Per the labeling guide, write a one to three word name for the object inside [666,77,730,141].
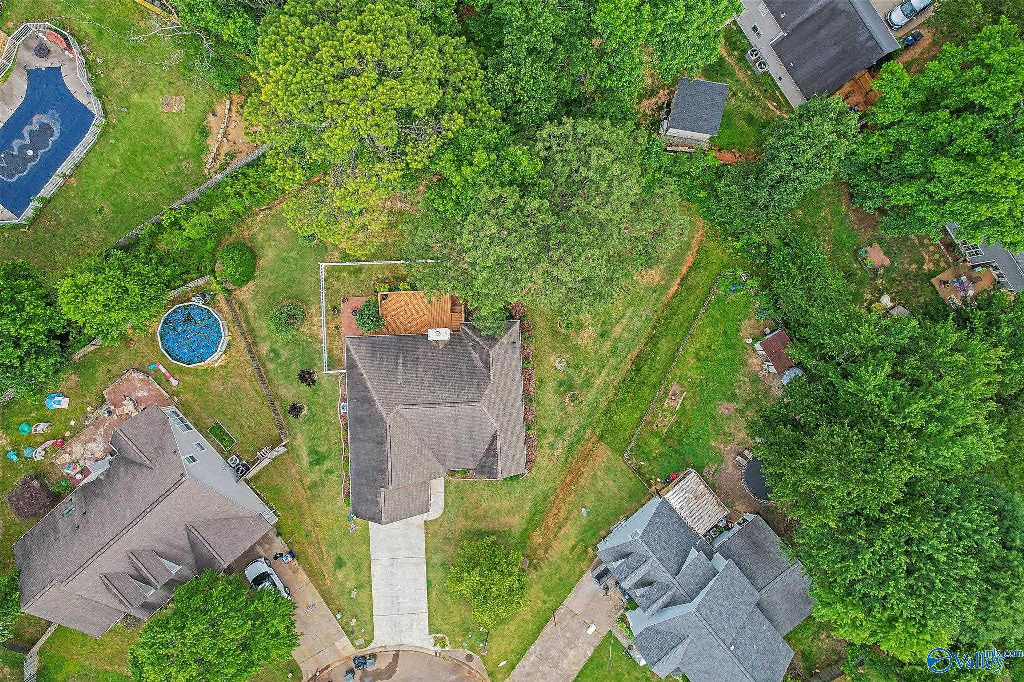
shed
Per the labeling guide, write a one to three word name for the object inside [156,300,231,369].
swimming pool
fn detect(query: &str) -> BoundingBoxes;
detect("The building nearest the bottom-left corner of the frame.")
[13,403,279,639]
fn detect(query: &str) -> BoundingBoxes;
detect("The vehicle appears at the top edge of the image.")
[890,0,940,26]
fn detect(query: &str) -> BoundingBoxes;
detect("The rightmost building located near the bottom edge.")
[596,494,823,682]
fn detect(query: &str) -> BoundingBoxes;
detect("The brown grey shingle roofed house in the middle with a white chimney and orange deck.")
[344,319,527,525]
